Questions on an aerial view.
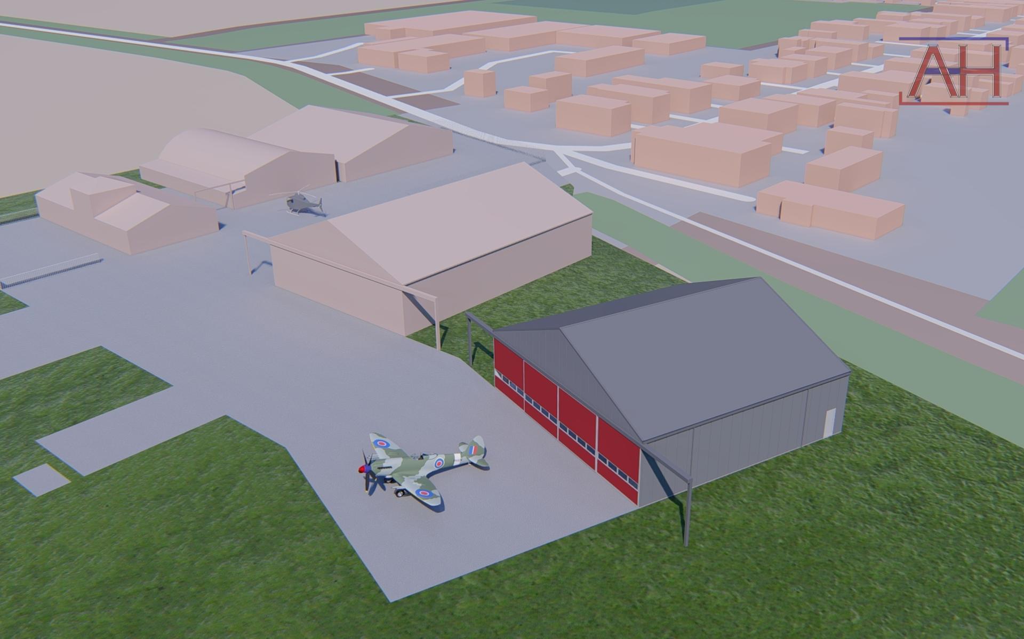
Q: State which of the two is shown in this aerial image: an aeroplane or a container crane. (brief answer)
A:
aeroplane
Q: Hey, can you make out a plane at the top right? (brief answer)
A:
No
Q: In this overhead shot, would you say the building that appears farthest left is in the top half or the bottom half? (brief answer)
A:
top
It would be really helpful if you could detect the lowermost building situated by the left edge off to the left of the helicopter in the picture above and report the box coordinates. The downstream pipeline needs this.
[36,172,219,254]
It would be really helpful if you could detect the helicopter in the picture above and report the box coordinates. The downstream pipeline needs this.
[269,184,324,215]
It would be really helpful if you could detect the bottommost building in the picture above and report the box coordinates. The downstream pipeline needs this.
[463,276,853,549]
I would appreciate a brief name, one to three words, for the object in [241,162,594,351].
hangar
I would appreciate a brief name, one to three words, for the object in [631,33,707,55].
building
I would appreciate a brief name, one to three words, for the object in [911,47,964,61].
house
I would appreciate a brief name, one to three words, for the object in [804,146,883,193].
house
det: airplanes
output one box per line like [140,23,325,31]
[358,431,487,505]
